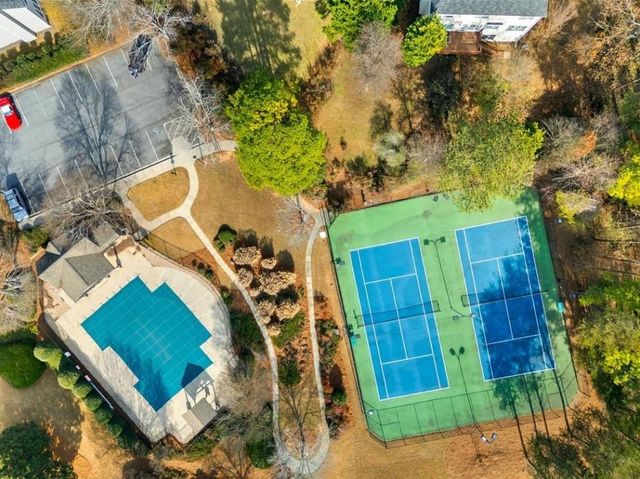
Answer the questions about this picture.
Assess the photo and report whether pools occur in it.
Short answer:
Yes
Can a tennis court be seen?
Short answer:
Yes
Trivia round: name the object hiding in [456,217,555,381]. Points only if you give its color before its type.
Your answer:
blue tennis court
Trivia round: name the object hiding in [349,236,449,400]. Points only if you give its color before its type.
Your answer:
blue tennis court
